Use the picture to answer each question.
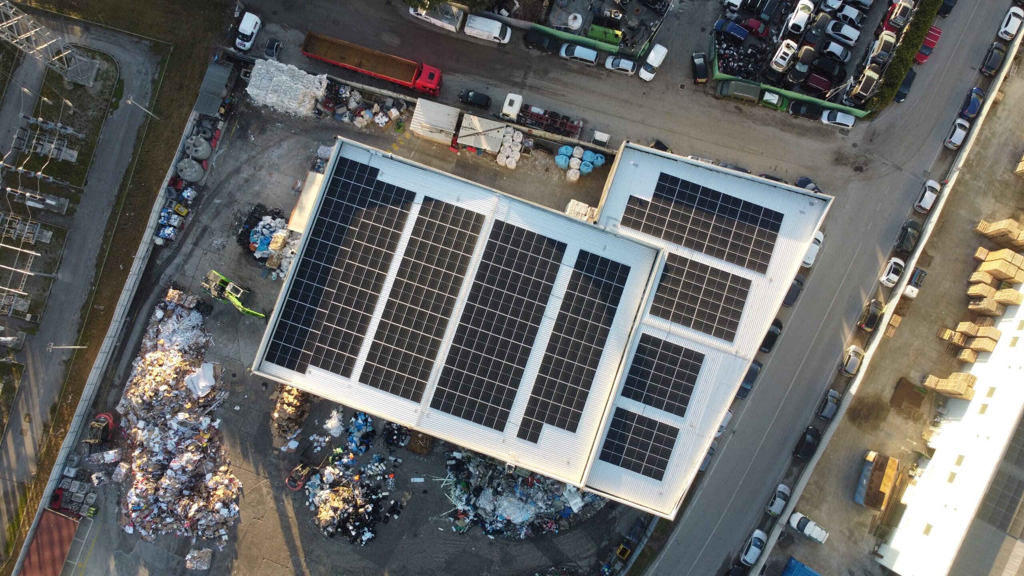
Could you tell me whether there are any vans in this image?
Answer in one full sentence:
Yes, this view includes a van.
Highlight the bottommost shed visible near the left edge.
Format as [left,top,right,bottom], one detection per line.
[21,508,84,576]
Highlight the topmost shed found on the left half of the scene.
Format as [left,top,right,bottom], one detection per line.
[200,61,236,100]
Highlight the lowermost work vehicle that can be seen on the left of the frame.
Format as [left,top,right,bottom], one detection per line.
[288,454,318,487]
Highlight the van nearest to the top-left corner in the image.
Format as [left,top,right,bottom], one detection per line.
[236,11,264,51]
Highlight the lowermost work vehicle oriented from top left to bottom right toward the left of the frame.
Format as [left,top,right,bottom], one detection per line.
[197,267,274,324]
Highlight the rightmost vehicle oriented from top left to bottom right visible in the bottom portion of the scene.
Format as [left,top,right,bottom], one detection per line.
[788,510,828,544]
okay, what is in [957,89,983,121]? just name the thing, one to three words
car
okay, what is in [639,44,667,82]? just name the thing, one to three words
van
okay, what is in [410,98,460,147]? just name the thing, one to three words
shed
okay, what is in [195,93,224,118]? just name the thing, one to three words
shed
